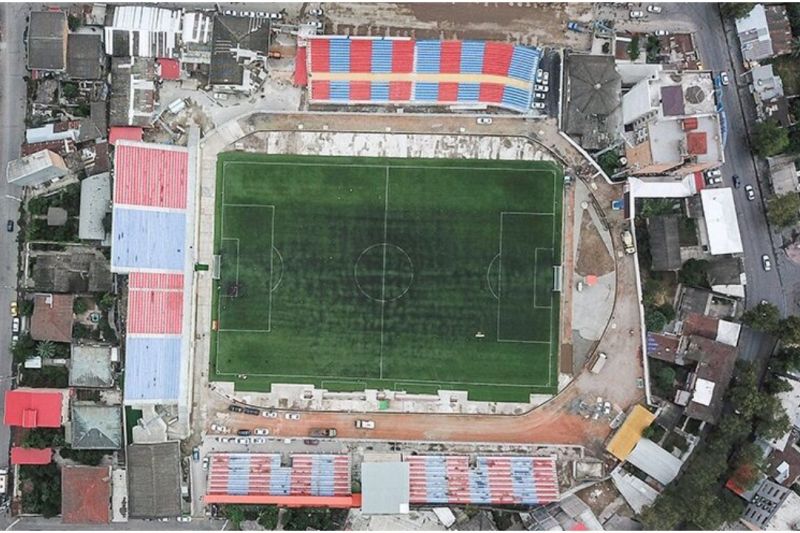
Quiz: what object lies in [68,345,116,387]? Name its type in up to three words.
house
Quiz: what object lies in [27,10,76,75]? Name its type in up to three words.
building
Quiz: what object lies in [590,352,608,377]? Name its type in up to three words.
vehicle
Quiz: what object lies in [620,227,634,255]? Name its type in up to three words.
vehicle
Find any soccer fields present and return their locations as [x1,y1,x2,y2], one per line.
[209,152,562,402]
